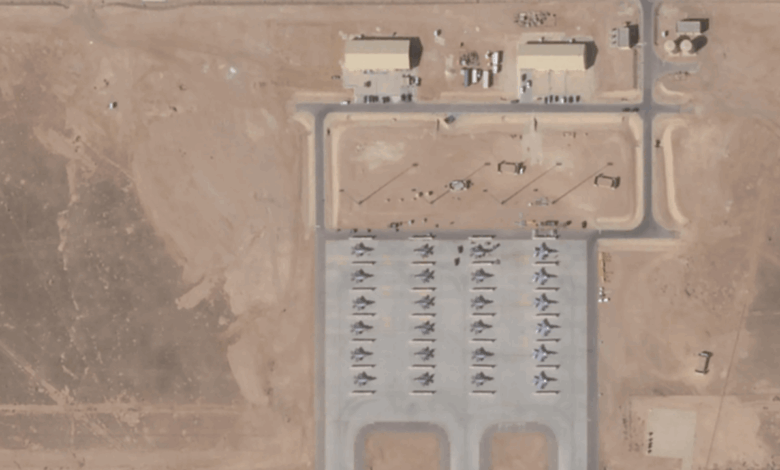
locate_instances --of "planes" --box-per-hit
[414,373,434,387]
[353,245,373,258]
[353,270,372,283]
[472,296,491,309]
[415,270,434,283]
[532,295,555,311]
[353,296,373,310]
[415,347,434,361]
[354,373,374,387]
[532,243,556,259]
[415,245,433,258]
[472,374,491,387]
[532,372,555,388]
[352,347,371,361]
[415,321,434,335]
[472,270,491,283]
[414,296,434,310]
[352,322,372,335]
[532,268,555,284]
[472,347,491,361]
[532,347,555,363]
[472,245,492,258]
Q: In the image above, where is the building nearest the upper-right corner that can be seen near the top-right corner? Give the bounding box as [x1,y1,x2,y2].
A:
[676,20,701,34]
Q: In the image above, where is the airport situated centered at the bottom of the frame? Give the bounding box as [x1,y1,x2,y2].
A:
[324,239,588,470]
